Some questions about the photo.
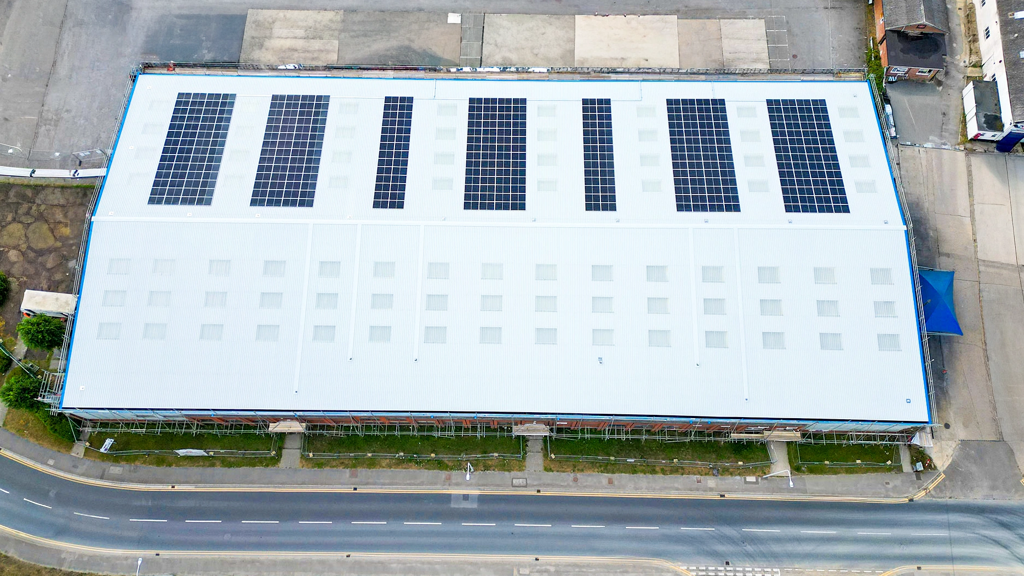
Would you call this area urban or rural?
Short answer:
urban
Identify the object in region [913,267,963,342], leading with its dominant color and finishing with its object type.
blue gazebo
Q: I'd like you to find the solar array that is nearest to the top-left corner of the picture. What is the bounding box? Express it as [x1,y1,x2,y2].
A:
[147,94,236,206]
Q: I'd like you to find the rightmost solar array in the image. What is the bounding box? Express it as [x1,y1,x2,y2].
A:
[767,100,851,214]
